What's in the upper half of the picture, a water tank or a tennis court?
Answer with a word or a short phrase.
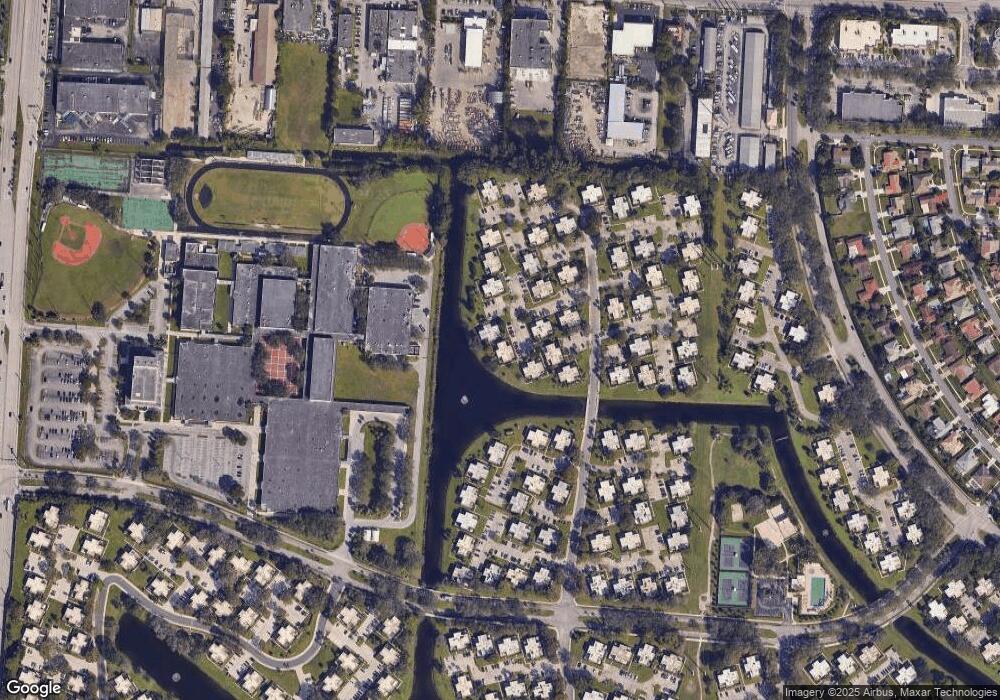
tennis court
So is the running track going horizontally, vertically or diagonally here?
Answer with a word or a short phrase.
horizontally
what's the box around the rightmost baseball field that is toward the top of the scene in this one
[365,190,430,255]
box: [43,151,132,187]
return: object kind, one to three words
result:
tennis court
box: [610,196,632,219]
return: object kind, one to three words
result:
house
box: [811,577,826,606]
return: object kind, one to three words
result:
swimming pool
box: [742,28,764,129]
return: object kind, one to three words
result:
building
